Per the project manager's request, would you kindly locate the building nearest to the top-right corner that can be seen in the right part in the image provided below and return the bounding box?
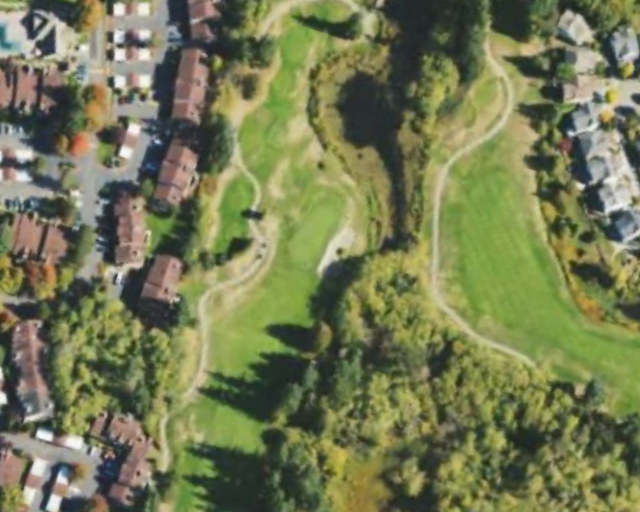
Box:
[612,25,640,64]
